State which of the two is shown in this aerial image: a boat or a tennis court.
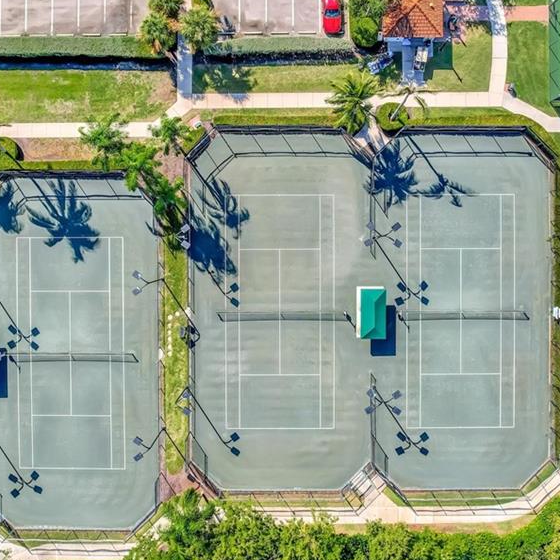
tennis court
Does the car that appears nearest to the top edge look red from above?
Yes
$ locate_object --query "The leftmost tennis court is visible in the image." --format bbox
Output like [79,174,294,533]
[0,176,158,529]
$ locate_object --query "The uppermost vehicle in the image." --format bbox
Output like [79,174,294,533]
[321,0,344,34]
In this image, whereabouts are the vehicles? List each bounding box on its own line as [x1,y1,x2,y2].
[369,51,394,71]
[321,0,344,34]
[414,43,431,68]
